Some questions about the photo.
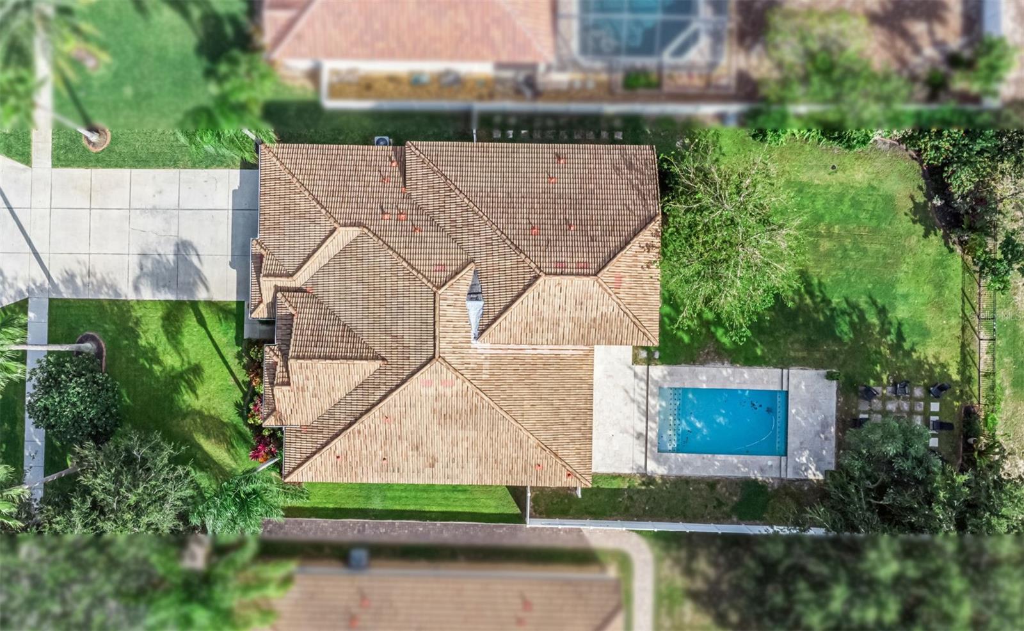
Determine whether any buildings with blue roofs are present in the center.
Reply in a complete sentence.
No, in the center there is no building with a blue roof.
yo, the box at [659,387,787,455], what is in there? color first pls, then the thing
blue swimming pool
